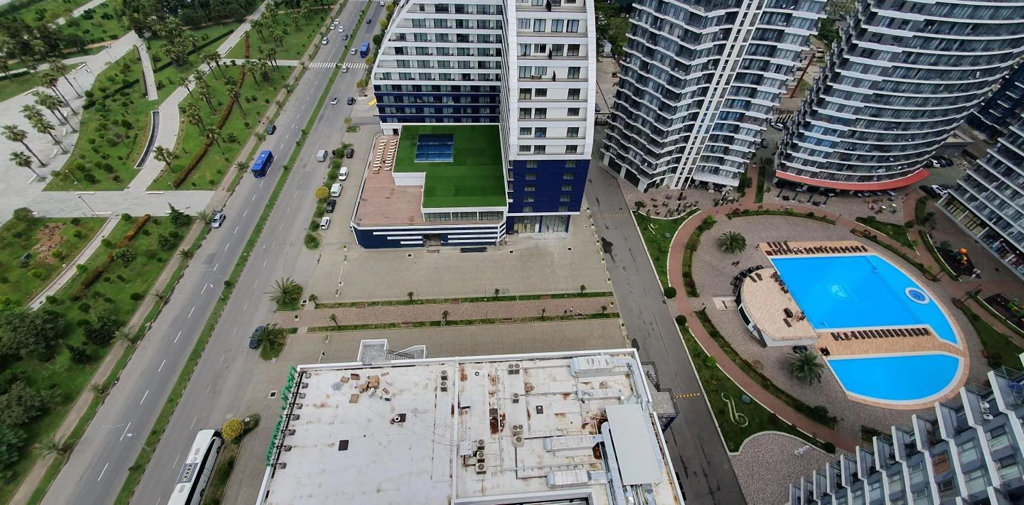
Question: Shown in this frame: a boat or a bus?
bus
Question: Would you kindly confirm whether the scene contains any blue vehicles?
Yes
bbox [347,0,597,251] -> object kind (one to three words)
building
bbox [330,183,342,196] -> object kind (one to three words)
vehicle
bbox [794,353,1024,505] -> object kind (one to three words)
building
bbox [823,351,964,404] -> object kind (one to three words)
swimming pool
